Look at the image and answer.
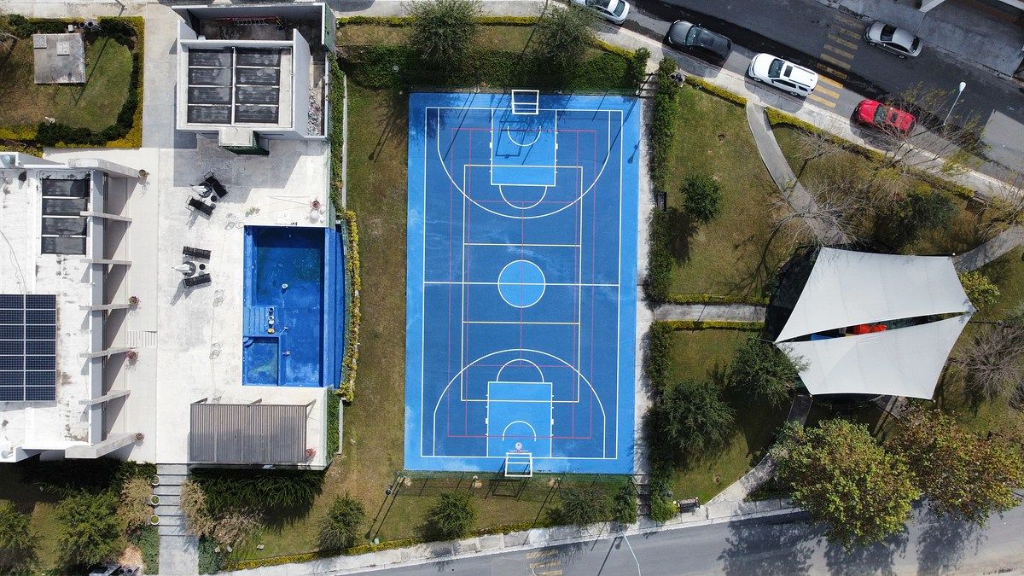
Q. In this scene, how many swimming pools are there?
1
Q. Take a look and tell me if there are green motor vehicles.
No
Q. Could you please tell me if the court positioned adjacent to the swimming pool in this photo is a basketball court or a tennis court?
basketball court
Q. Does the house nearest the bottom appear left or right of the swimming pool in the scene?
on the left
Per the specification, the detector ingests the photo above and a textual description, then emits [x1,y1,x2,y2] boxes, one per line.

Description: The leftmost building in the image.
[0,148,142,468]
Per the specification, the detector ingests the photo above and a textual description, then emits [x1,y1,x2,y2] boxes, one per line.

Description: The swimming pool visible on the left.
[241,224,349,388]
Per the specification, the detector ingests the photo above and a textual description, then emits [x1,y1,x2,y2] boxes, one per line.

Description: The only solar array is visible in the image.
[0,294,57,401]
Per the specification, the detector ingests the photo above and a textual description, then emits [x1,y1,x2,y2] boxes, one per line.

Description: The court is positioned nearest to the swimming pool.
[404,93,639,475]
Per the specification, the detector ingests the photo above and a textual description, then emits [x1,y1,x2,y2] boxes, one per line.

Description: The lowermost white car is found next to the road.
[750,52,821,97]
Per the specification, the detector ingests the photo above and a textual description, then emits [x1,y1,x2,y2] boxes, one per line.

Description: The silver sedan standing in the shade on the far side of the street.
[862,18,925,60]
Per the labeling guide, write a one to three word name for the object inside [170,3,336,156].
building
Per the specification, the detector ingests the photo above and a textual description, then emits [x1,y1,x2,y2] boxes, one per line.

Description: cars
[571,0,631,20]
[669,18,734,64]
[862,18,925,60]
[750,52,821,97]
[855,97,917,135]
